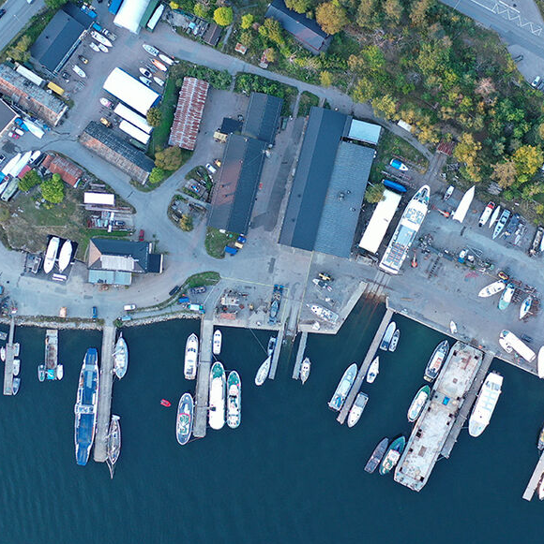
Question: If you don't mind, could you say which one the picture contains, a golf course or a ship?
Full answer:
The one in the frame is a ship.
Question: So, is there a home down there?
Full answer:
Yes, I can see a home in this picture.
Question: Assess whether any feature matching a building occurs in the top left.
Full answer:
Yes, the scene does show a building in the top left.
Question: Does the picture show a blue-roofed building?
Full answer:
Yes, looking at the shot, I can spot a blue-roofed building.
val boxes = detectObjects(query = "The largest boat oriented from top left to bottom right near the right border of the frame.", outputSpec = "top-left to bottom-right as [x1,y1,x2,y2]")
[502,331,541,366]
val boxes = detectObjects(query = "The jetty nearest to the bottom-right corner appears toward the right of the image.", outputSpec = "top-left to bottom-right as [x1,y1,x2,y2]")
[523,449,544,501]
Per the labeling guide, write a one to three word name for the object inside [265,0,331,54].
house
